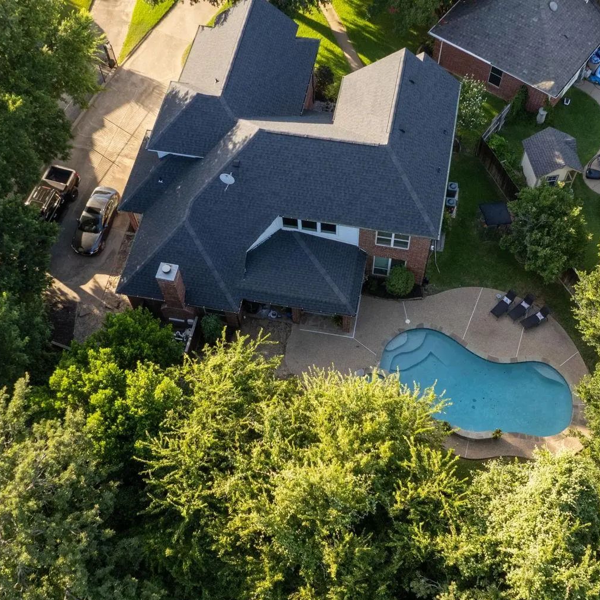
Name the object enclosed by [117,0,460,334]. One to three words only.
house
